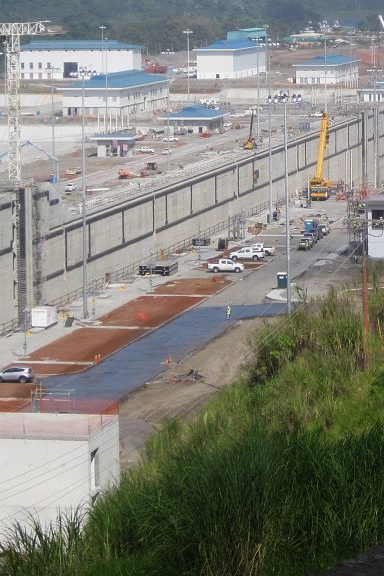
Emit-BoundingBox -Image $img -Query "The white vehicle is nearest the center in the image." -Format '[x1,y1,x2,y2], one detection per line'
[209,257,243,270]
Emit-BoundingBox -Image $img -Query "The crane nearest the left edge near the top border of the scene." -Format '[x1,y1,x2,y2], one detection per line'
[0,19,63,182]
